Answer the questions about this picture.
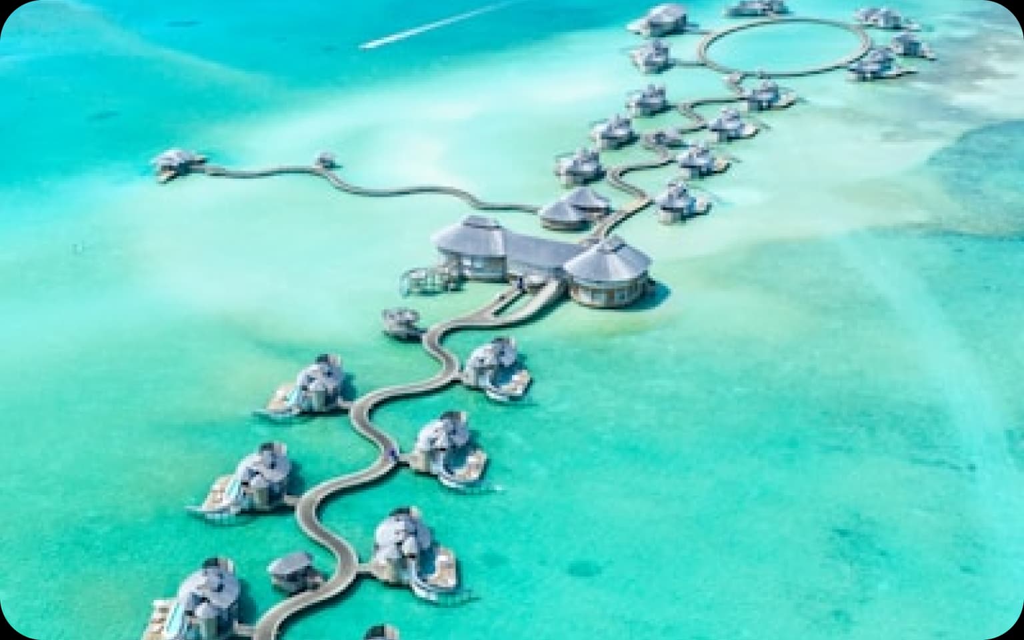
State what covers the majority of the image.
water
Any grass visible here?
No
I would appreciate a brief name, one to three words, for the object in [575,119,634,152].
house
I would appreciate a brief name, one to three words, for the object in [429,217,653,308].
building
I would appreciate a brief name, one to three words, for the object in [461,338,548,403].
house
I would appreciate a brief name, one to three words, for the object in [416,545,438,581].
swimming pool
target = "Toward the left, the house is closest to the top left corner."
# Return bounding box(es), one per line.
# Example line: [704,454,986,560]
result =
[145,152,219,189]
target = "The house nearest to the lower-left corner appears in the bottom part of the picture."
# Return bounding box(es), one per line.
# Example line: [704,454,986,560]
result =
[145,556,249,640]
